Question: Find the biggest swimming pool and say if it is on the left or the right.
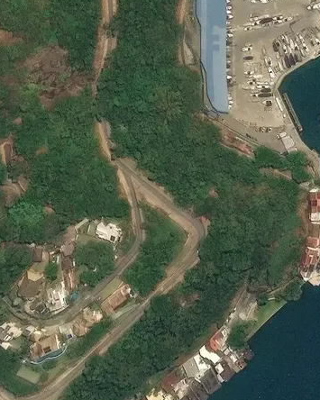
left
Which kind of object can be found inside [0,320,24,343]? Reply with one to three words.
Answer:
house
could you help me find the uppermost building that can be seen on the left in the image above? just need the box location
[96,218,126,244]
